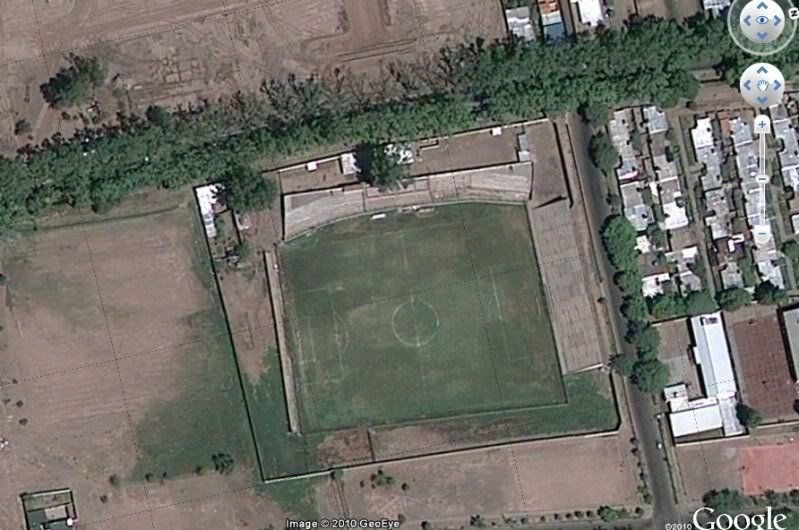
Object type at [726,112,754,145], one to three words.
house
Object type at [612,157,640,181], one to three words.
house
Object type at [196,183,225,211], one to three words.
building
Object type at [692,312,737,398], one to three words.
building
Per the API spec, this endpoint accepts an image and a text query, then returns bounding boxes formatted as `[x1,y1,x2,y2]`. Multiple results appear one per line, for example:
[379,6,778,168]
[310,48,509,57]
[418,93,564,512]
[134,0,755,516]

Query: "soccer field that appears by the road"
[283,202,566,434]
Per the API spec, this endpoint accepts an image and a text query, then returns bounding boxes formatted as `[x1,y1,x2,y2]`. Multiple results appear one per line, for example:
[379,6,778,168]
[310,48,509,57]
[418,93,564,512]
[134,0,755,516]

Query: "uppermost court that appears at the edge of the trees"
[731,316,799,425]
